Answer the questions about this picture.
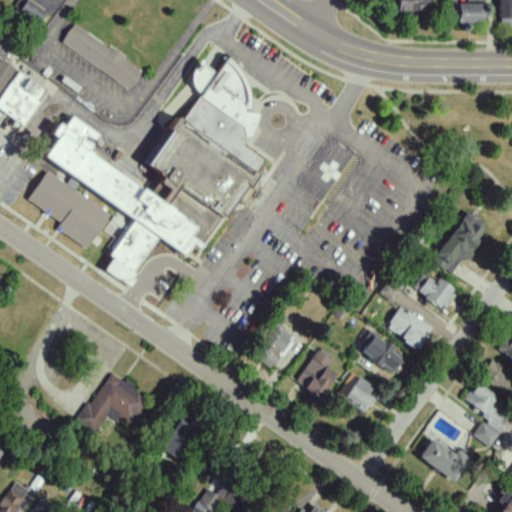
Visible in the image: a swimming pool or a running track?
swimming pool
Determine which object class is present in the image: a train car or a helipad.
helipad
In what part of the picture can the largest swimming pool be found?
bottom right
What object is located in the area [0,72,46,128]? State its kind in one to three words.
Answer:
building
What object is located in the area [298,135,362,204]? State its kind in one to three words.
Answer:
helipad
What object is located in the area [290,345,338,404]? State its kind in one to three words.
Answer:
house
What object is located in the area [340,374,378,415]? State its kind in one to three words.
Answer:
house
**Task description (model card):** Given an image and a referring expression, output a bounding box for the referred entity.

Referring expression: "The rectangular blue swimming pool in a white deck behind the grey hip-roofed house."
[425,410,469,454]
